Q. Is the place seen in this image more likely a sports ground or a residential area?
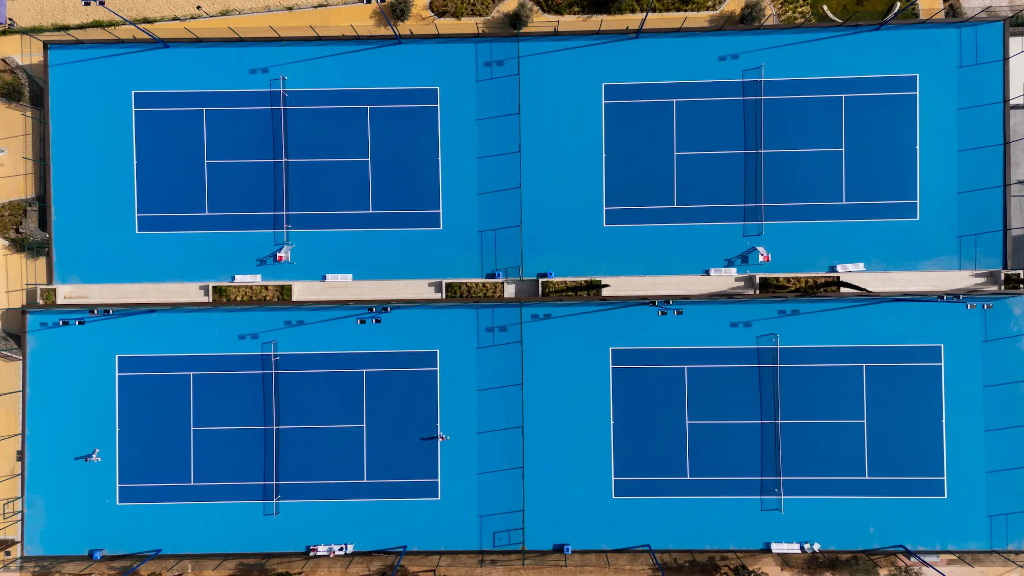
sports ground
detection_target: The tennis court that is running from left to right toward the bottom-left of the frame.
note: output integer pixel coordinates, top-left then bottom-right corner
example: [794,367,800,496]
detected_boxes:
[24,304,524,555]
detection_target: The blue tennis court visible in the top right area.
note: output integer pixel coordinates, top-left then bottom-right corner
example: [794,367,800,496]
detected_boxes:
[519,20,1005,277]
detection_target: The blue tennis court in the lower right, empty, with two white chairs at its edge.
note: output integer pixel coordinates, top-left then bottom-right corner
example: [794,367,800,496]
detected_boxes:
[522,297,1024,551]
